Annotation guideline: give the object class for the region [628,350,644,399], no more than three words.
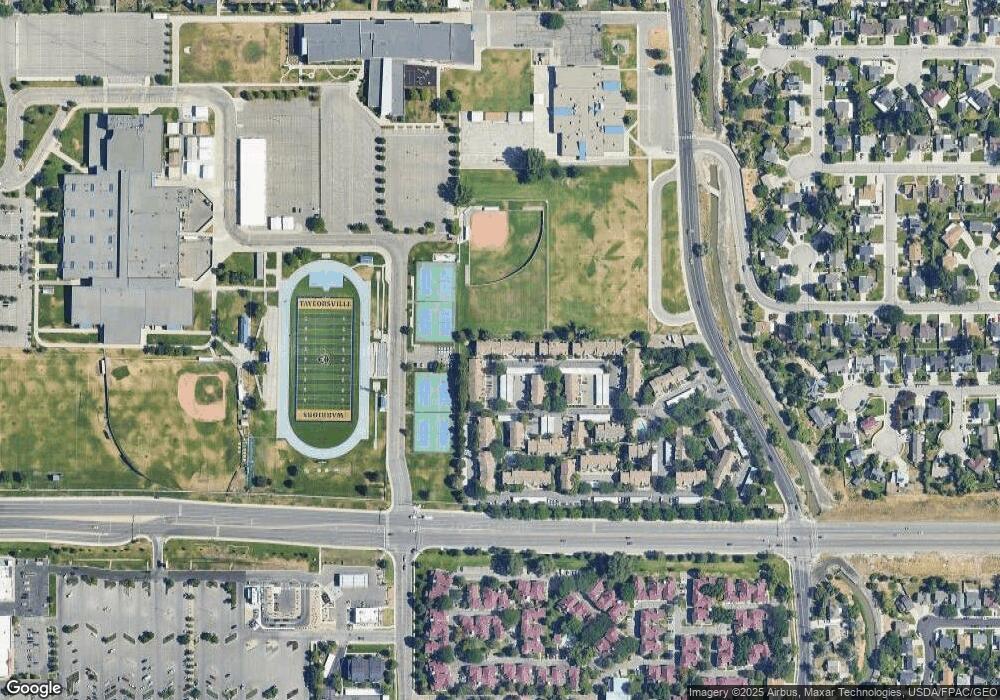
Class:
building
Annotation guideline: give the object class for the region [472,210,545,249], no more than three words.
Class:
baseball field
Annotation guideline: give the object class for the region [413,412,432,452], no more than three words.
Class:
tennis court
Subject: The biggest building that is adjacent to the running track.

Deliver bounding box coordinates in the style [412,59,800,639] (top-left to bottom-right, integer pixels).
[62,113,213,344]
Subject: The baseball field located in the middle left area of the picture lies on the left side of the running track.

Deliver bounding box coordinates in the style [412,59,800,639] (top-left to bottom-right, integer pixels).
[179,374,229,420]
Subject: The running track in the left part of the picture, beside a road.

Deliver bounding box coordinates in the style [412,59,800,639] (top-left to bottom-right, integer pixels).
[277,260,371,459]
